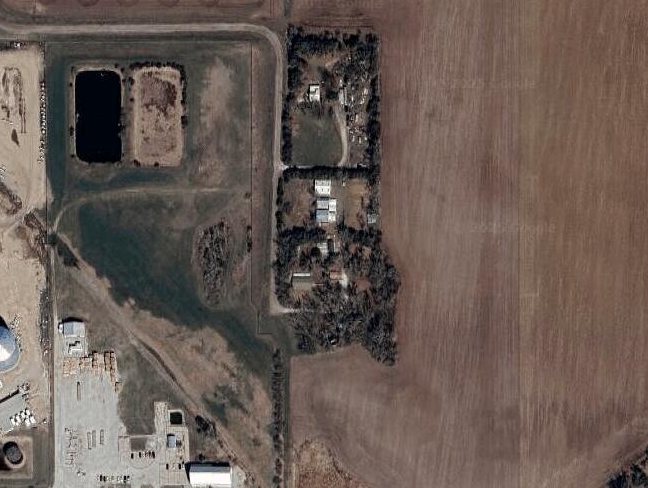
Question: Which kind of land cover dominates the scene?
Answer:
farmland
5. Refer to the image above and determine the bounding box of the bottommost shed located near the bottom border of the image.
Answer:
[189,465,232,487]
